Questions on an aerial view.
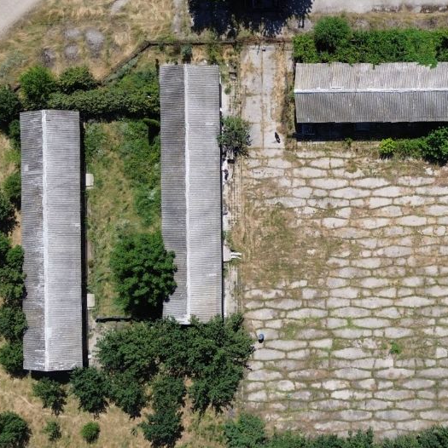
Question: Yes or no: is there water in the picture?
No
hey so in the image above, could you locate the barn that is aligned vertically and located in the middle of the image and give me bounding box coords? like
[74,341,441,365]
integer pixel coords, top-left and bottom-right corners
[159,60,225,326]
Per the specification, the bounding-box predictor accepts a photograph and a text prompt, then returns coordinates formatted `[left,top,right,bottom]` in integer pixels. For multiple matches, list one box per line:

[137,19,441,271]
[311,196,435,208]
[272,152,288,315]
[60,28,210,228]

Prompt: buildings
[159,60,225,326]
[294,61,448,123]
[19,108,91,374]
